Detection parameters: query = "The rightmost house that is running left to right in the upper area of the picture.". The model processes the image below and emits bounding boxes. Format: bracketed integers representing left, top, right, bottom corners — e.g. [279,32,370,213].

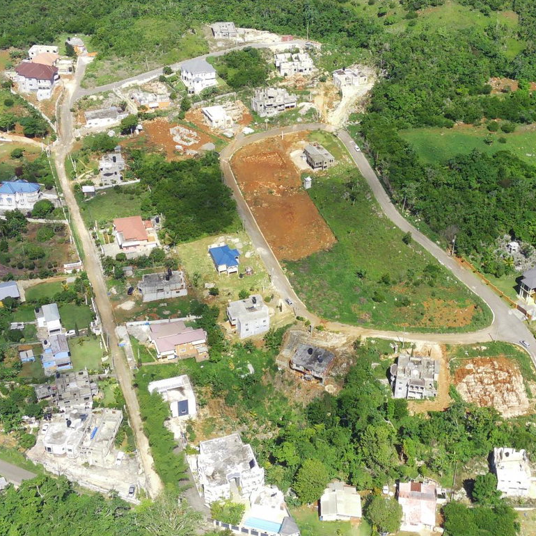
[334,68,366,84]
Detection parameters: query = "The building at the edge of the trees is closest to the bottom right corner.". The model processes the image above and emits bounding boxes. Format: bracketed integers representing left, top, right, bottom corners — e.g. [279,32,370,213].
[491,447,529,496]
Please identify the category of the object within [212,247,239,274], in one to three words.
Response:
house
